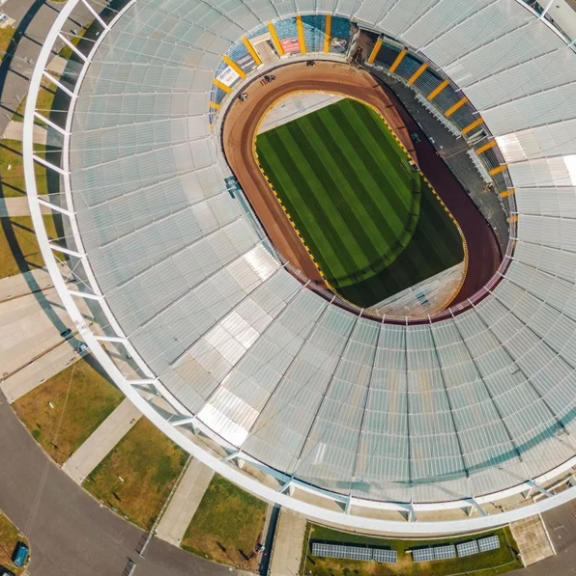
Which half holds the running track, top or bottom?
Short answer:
top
